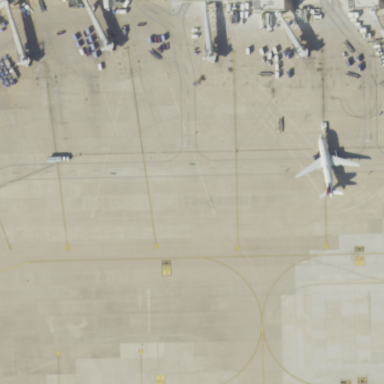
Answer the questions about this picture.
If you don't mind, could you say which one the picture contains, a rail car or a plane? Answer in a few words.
plane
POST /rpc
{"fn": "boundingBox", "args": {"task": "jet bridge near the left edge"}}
[4,0,34,66]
